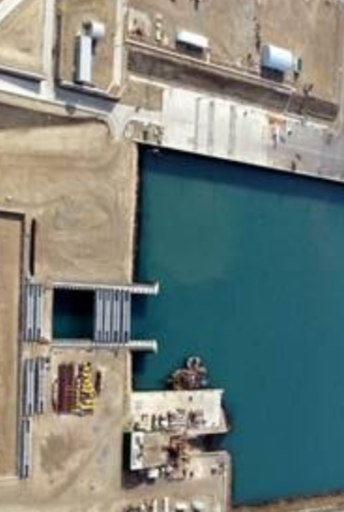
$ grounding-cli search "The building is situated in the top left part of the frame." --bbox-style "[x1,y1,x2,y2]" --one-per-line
[76,33,95,83]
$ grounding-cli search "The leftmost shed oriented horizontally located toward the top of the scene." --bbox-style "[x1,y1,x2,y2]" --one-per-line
[175,30,210,51]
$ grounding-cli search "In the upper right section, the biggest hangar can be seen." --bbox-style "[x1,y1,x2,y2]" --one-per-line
[259,44,297,74]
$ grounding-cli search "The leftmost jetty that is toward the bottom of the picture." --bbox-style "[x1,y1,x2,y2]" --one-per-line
[43,283,159,351]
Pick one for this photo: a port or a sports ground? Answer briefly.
port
